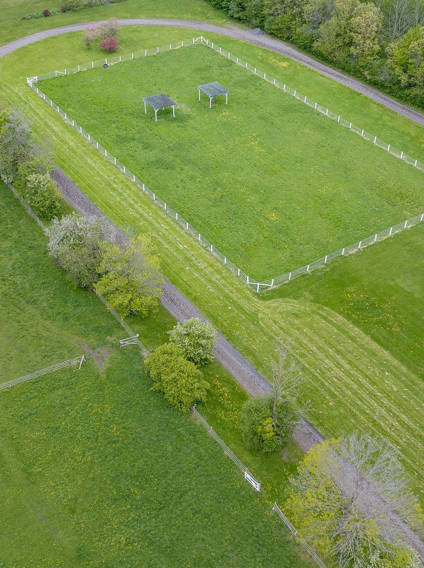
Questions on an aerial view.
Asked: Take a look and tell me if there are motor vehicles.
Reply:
No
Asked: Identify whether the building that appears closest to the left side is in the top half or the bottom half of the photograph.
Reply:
top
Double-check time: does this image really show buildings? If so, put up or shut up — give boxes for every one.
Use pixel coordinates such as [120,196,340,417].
[198,79,230,107]
[143,91,176,120]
